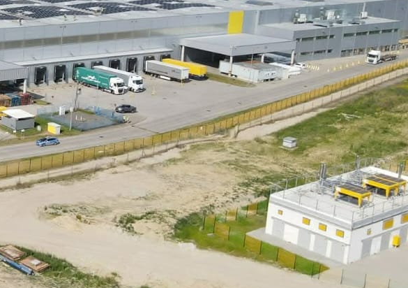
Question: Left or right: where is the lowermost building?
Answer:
right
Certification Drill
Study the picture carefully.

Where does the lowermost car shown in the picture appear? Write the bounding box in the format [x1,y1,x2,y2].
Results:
[36,134,61,146]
